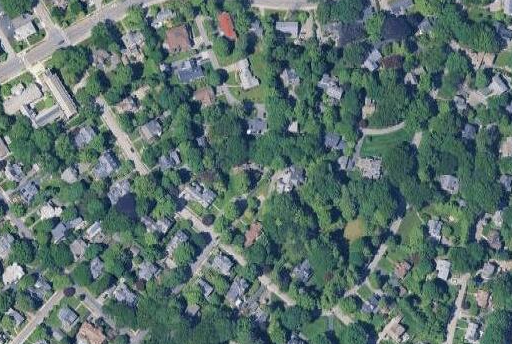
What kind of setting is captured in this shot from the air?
residential area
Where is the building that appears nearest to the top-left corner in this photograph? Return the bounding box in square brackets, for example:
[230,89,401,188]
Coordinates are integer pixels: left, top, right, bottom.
[12,18,38,41]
